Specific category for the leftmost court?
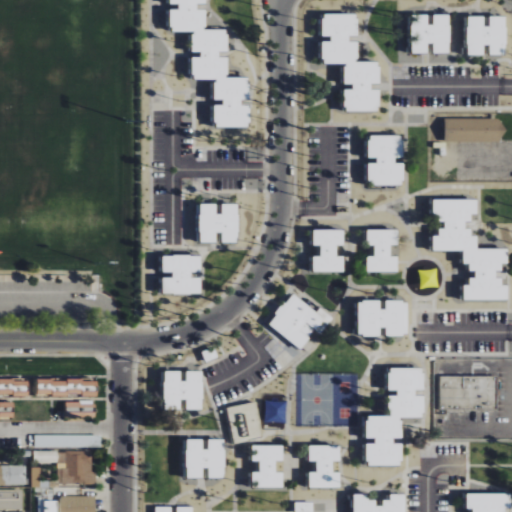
basketball court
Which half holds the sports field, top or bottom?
top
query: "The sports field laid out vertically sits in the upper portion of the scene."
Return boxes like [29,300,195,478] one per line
[0,0,141,330]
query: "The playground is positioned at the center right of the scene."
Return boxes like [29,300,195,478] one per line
[406,260,442,296]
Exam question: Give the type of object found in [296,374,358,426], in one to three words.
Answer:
basketball court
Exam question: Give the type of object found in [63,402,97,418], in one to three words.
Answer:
house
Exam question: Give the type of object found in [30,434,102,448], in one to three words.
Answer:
building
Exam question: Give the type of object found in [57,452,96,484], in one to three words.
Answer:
house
